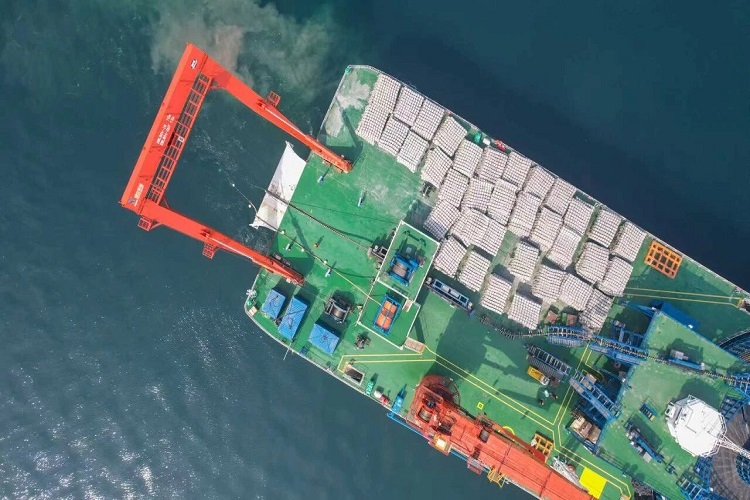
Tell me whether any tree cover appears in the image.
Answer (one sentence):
No, tree cover can't be seen anywhere here.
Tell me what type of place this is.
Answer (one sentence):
This image shows a port.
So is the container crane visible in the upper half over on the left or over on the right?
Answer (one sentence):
The container crane visible in the upper half is on the left side of the image.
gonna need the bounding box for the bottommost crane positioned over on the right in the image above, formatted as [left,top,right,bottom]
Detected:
[404,373,604,500]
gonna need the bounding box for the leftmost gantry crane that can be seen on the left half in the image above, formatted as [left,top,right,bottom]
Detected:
[119,43,357,289]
